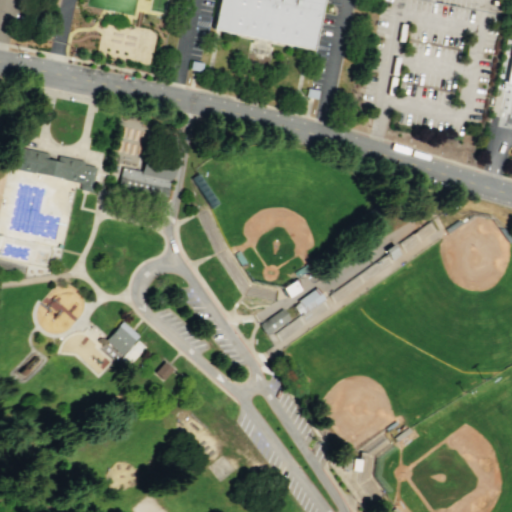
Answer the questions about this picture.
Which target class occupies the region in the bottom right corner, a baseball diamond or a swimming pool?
baseball diamond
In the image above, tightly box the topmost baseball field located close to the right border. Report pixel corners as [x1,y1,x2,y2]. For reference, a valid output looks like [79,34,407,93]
[311,213,512,372]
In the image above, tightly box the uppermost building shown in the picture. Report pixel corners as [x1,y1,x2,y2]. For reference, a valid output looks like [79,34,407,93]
[214,0,328,51]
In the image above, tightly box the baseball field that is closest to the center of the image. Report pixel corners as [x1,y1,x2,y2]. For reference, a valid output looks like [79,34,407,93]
[196,142,374,291]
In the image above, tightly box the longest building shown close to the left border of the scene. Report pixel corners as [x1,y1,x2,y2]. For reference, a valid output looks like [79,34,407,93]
[16,148,97,190]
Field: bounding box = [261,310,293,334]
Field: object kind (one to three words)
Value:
building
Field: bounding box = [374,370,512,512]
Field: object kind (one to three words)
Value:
baseball field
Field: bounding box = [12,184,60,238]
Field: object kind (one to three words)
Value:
swimming pool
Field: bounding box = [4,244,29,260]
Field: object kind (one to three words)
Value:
swimming pool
